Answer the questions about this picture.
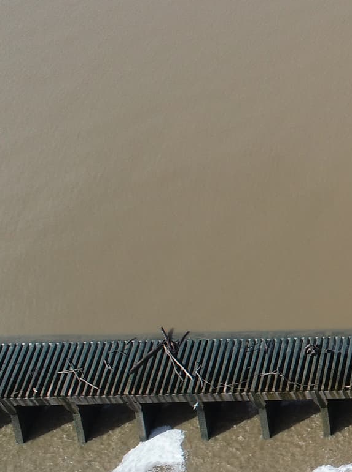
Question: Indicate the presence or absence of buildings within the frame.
No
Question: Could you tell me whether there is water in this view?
Yes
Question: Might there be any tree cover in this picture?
No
